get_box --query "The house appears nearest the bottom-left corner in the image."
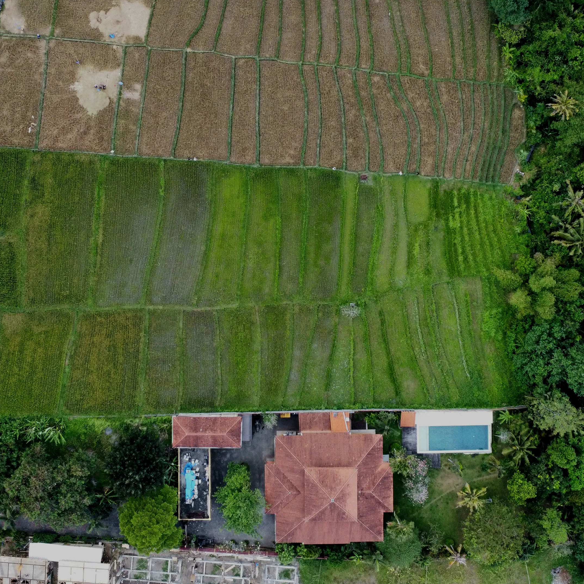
[172,416,242,448]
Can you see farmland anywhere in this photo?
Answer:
Yes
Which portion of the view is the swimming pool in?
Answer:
bottom right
